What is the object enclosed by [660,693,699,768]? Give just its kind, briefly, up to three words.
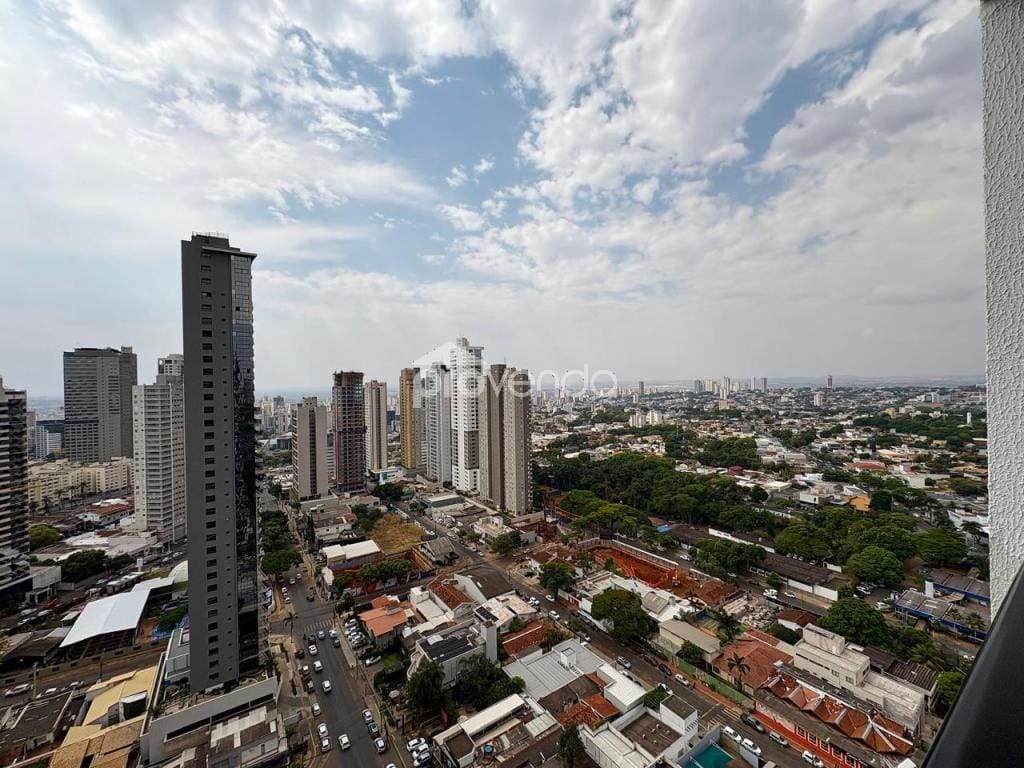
building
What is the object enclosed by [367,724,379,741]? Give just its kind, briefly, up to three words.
vehicle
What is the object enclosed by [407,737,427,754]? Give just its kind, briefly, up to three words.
car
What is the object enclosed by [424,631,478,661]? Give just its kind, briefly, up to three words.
solar panel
